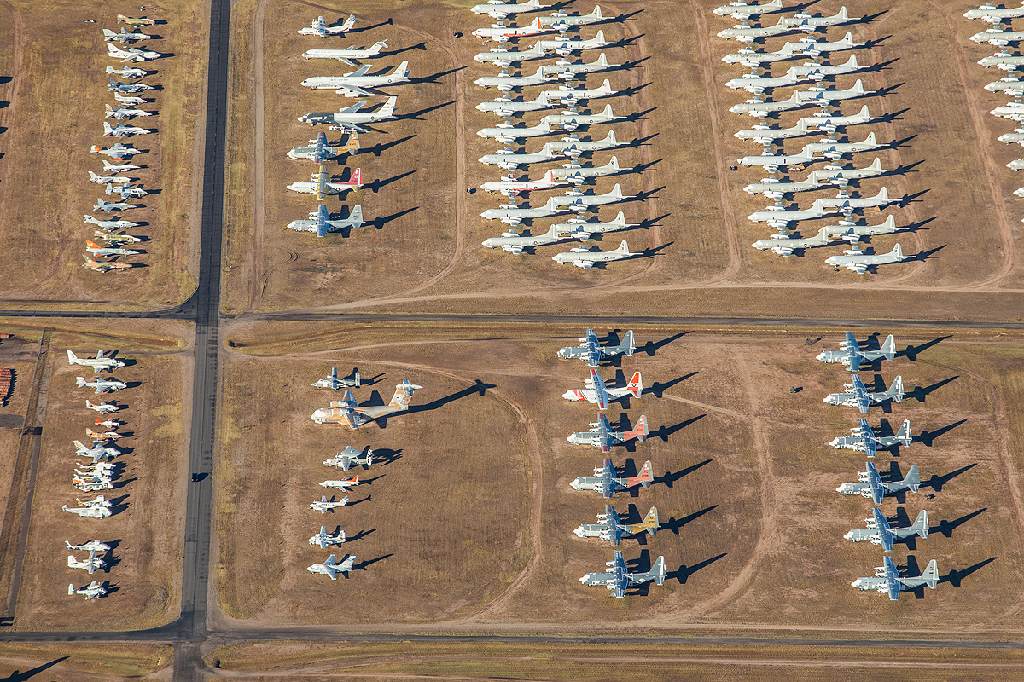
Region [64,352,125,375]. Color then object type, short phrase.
white airplane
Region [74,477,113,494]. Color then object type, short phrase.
white helicopter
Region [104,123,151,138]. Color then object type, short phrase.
white airplane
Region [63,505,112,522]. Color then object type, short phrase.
white helicopter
